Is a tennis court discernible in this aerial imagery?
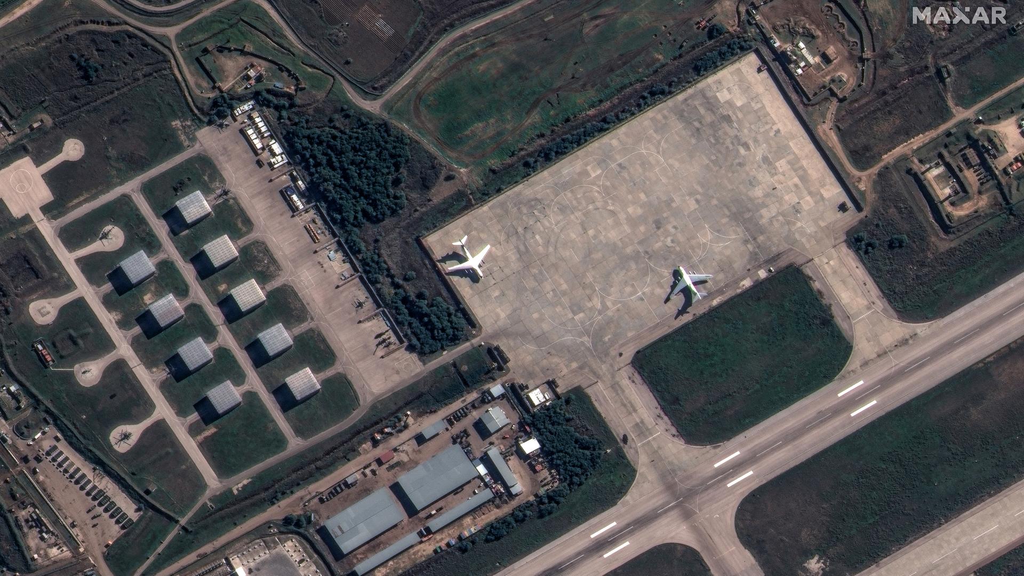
No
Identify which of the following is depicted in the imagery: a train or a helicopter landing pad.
helicopter landing pad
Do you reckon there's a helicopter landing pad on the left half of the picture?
Yes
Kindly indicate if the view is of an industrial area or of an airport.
airport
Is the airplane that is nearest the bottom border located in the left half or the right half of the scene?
right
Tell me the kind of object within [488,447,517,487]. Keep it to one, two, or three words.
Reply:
building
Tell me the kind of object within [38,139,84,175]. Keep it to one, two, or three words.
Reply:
helipad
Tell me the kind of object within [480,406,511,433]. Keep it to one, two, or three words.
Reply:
building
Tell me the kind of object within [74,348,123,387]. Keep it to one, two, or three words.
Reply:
helipad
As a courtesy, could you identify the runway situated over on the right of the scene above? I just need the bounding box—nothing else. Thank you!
[490,273,1024,576]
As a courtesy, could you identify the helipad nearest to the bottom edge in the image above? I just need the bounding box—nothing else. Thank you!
[109,406,164,452]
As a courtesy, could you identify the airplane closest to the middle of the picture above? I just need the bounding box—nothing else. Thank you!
[449,236,489,279]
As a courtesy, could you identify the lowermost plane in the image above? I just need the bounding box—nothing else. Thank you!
[674,266,714,306]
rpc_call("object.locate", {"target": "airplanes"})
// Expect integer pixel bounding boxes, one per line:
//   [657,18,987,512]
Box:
[674,266,714,306]
[449,236,489,279]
